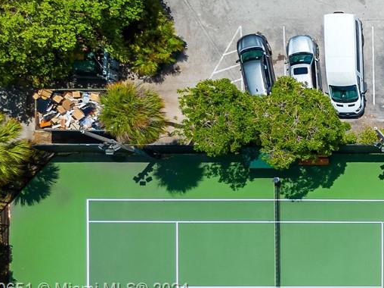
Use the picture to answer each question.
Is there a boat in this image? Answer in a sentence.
No, the frame has no boat in it.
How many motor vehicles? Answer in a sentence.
The number of motor vehicles here is 3.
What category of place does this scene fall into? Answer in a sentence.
This image shows a sports ground.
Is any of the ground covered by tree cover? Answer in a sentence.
Yes, tree cover can be seen from above here.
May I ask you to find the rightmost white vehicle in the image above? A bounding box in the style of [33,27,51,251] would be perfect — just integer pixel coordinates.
[320,8,366,117]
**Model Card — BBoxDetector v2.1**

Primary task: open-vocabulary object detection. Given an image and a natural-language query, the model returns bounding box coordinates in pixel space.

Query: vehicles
[282,31,321,108]
[235,28,280,104]
[320,8,366,117]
